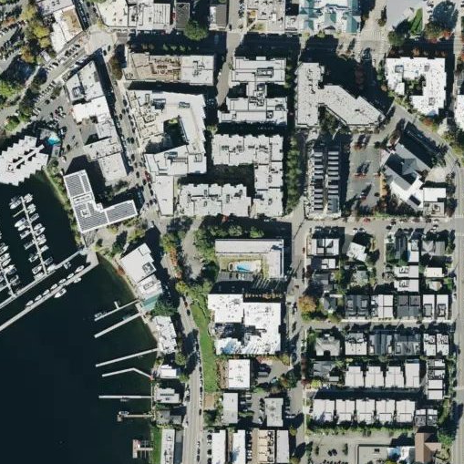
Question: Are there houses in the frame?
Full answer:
Yes, there's a house down there.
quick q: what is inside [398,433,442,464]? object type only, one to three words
building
